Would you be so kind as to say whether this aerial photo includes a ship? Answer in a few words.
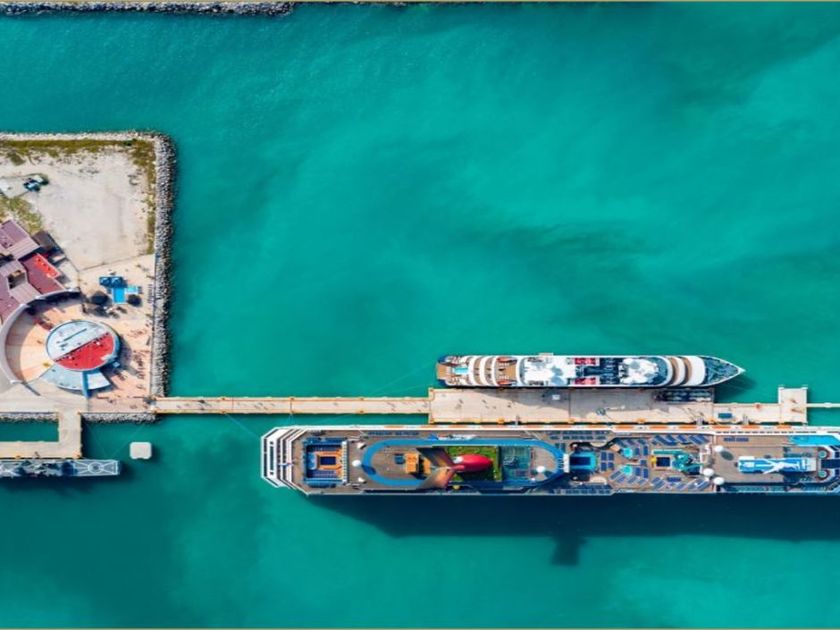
Yes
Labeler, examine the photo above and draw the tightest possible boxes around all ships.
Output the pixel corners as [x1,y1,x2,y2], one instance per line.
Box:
[0,459,120,478]
[260,424,840,495]
[436,352,746,386]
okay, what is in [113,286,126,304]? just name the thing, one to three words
swimming pool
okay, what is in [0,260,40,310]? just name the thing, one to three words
building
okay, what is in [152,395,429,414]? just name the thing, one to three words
pier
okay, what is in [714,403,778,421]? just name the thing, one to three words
pier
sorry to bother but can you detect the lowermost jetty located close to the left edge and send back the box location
[0,412,84,458]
